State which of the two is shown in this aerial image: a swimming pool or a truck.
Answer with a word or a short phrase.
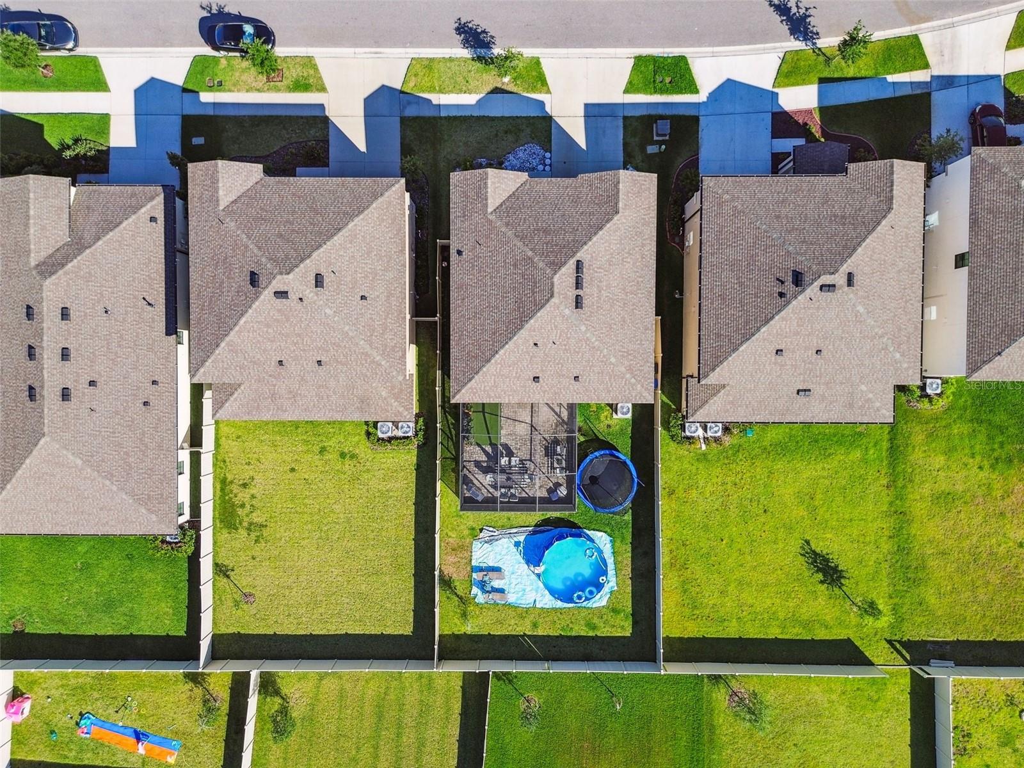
swimming pool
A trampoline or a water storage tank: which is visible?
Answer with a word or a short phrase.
trampoline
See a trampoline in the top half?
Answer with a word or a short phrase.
No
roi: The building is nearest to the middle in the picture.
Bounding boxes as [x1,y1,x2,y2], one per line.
[450,168,658,404]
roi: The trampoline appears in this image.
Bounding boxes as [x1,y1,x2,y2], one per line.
[577,450,645,511]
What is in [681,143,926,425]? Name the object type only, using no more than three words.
house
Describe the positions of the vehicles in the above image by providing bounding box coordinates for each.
[0,16,78,55]
[968,104,1007,148]
[207,18,276,55]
